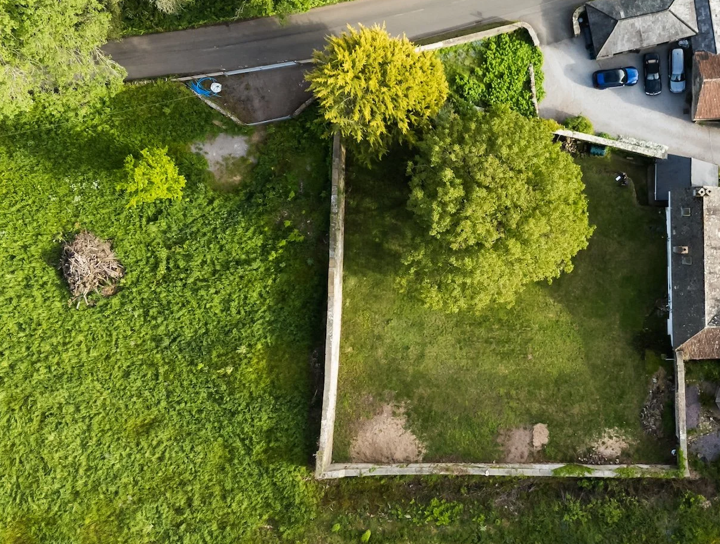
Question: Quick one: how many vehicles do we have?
3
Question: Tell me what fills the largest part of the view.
grass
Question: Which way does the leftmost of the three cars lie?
from side to side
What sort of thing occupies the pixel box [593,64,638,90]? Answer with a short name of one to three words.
car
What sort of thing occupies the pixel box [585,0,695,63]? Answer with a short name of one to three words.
building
